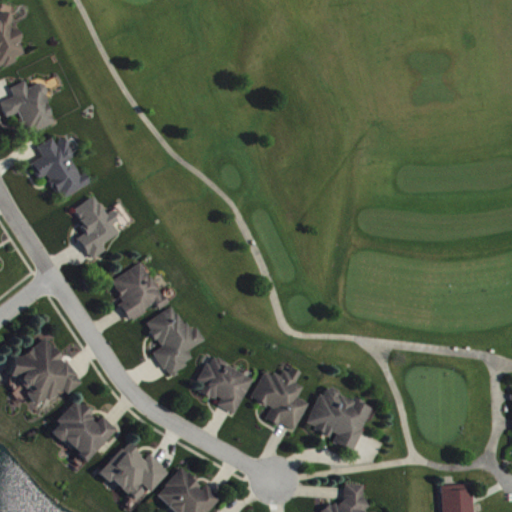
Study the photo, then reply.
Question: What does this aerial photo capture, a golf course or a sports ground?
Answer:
golf course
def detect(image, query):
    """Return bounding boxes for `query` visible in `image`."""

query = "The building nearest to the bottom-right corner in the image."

[440,483,472,512]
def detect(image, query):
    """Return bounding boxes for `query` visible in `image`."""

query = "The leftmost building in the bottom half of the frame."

[10,336,77,403]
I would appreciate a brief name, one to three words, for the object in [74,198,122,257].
house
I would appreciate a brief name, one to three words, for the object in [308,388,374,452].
house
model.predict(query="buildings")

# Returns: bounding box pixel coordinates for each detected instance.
[0,80,56,129]
[102,447,168,508]
[158,470,215,512]
[52,403,116,459]
[74,198,122,257]
[10,336,77,403]
[114,264,169,320]
[318,482,370,512]
[308,388,374,452]
[32,136,90,196]
[197,358,249,416]
[146,307,204,375]
[252,364,308,434]
[440,483,472,512]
